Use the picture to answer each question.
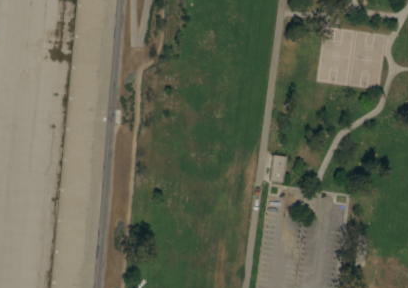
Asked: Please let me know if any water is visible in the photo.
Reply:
Yes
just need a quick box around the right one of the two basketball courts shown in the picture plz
[349,30,386,88]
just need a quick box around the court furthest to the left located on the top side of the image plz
[317,27,354,85]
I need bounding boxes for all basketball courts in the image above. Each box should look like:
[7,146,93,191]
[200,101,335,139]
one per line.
[317,27,354,85]
[349,30,386,88]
